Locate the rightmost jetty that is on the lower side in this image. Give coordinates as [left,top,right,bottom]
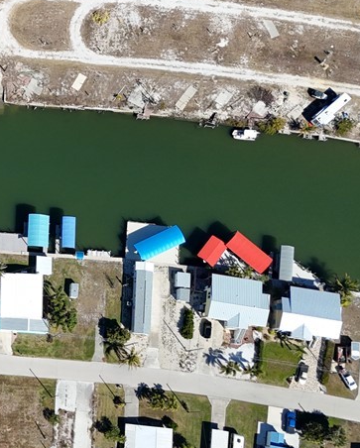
[291,259,326,290]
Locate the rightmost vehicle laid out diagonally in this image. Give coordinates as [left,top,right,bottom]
[332,366,357,392]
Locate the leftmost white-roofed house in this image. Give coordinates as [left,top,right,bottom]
[0,257,52,333]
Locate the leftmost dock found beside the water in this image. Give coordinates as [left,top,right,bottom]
[0,231,28,252]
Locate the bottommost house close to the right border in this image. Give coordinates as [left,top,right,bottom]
[274,286,346,340]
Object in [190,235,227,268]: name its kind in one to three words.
building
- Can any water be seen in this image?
Yes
